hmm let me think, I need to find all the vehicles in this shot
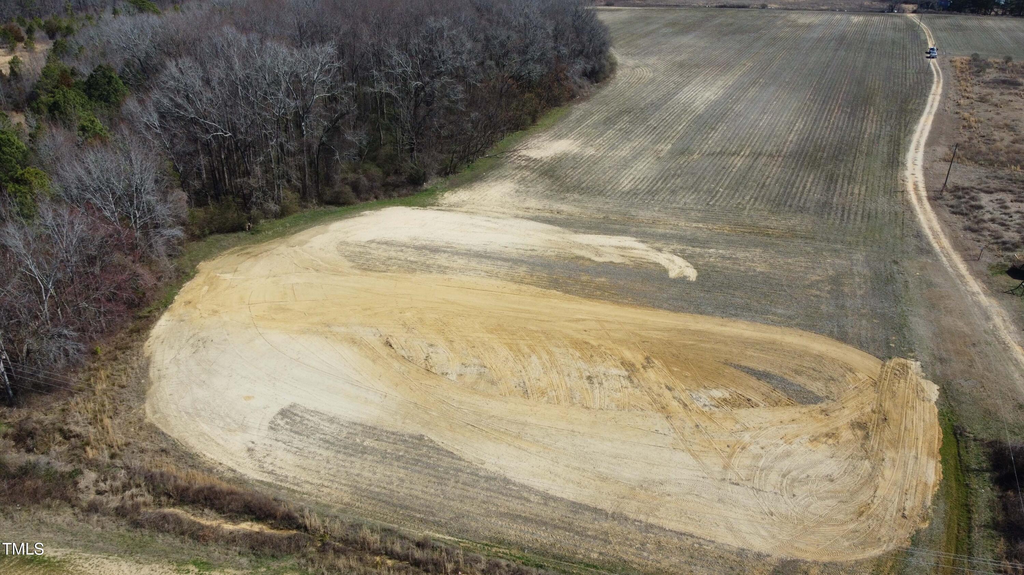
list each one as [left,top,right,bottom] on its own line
[929,45,938,53]
[930,49,940,58]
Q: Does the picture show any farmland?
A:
Yes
